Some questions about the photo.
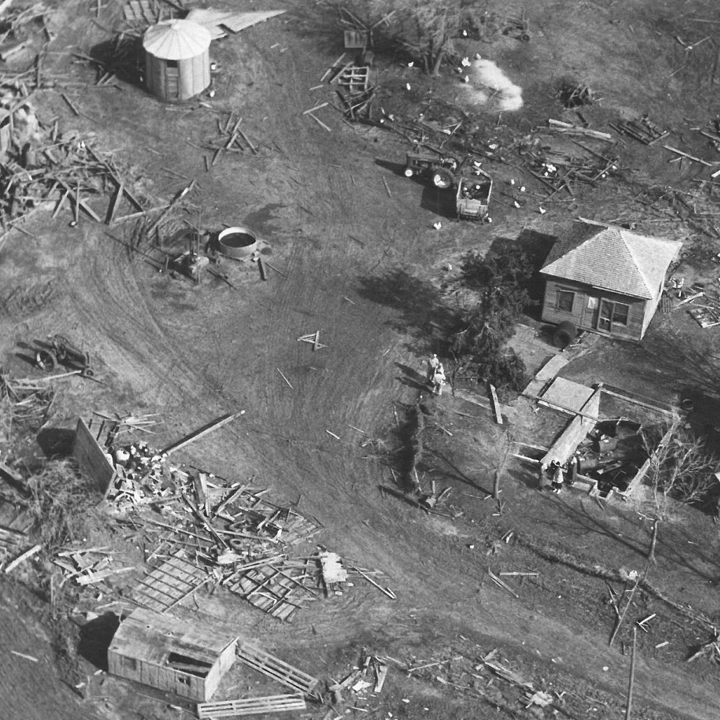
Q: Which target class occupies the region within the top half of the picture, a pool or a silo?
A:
silo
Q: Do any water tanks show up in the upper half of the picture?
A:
Yes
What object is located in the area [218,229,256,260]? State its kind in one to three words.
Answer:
water tank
